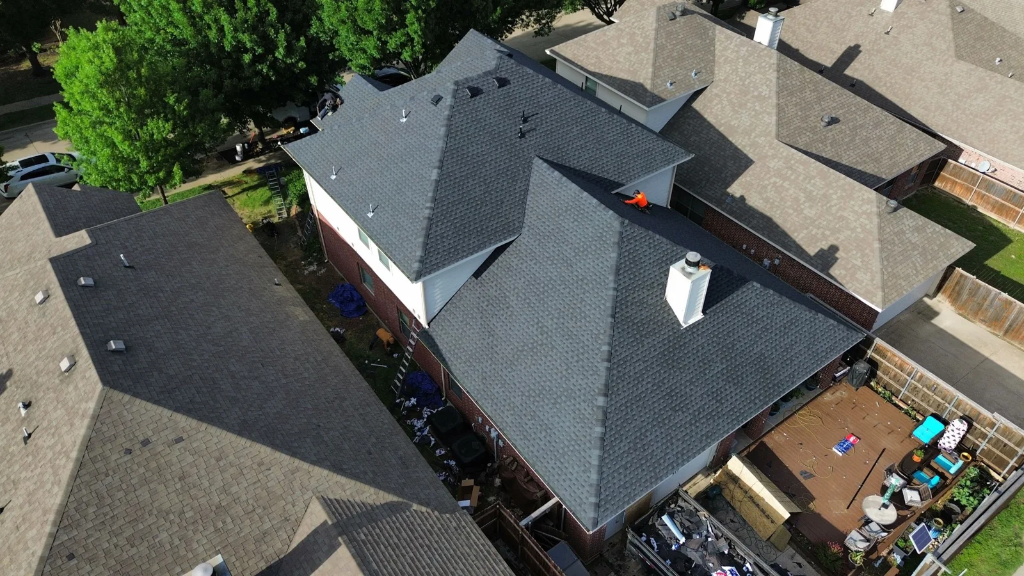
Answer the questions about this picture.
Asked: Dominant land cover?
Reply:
buildings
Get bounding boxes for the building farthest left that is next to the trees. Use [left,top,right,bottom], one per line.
[0,172,513,576]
